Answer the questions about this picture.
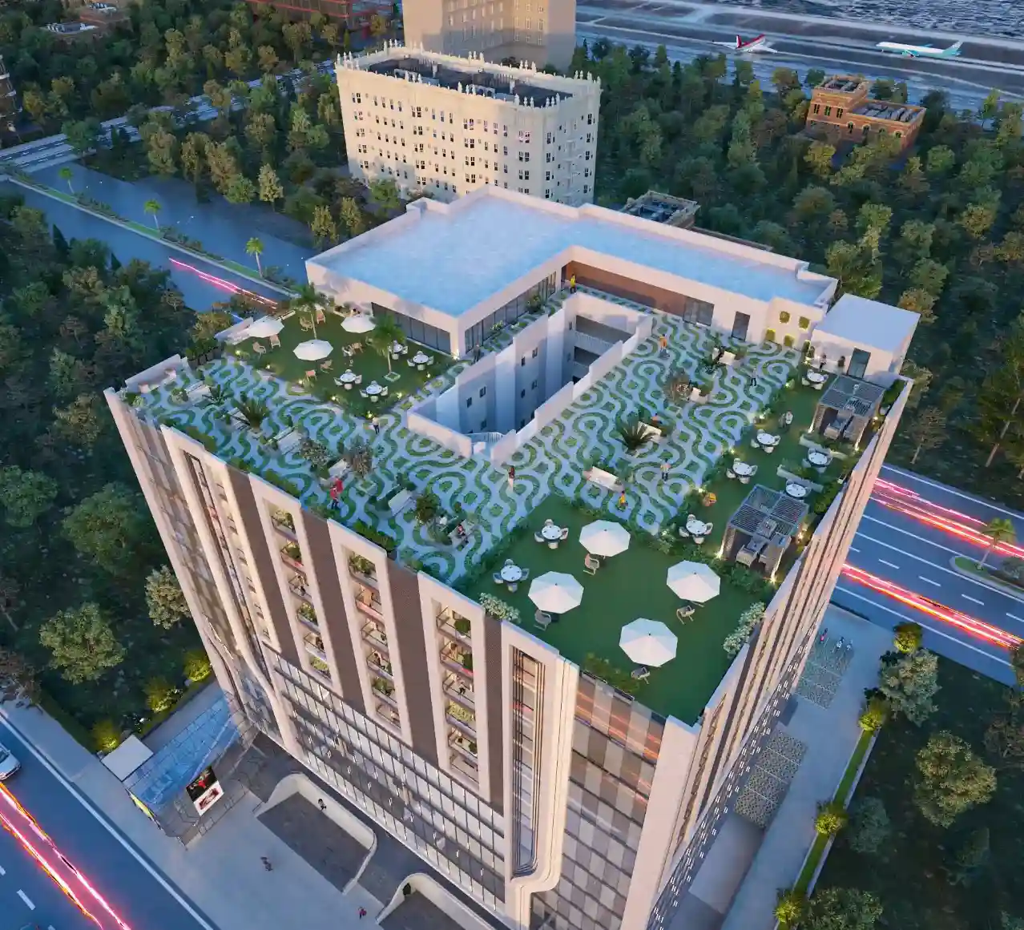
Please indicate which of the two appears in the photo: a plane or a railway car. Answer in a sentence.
There is a plane in the scene.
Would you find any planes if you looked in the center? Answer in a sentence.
No, no plane appears in the center.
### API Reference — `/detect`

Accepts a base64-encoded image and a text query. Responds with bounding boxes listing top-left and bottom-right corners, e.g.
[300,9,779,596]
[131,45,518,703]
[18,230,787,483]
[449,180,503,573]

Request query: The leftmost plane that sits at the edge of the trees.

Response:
[711,32,782,55]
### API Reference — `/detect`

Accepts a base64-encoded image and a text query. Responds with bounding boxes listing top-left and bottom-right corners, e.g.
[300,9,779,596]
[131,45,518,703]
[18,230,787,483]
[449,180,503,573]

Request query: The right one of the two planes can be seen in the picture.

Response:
[876,35,967,61]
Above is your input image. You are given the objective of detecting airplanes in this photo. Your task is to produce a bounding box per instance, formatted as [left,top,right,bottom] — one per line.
[711,32,782,55]
[876,35,967,61]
